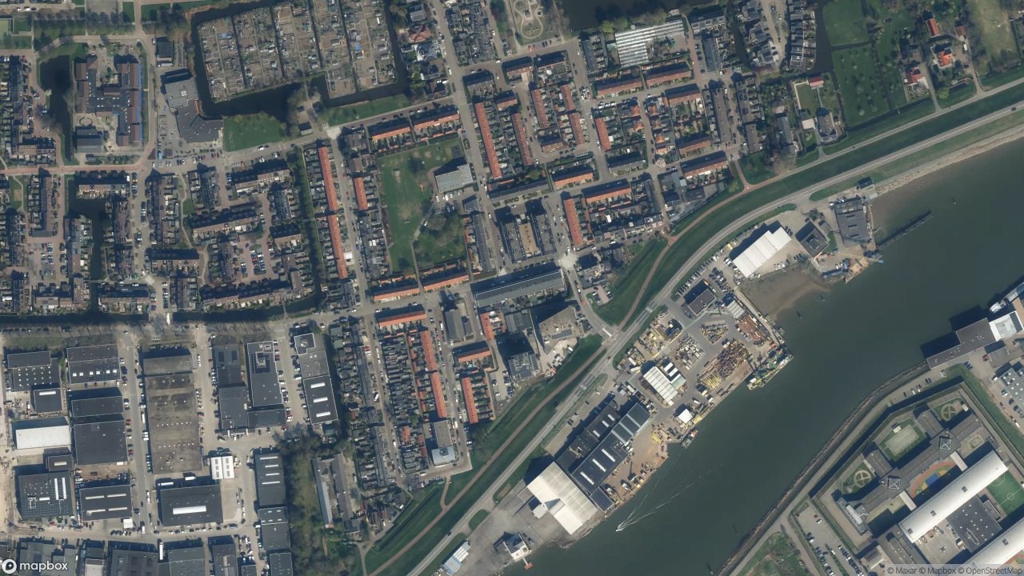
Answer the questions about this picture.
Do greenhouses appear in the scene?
Yes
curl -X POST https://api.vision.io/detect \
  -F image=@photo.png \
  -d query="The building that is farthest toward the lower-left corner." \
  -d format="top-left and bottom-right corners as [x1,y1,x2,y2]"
[19,543,56,576]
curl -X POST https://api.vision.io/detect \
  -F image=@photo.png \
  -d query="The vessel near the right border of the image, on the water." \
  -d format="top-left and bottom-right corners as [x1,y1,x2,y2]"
[989,283,1024,313]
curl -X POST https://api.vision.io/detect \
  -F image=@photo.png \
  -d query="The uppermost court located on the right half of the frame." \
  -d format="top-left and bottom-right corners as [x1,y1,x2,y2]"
[879,419,926,462]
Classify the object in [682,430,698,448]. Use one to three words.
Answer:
boat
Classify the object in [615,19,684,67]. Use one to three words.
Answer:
greenhouse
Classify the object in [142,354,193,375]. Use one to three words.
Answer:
building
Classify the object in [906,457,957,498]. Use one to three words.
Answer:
sports court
